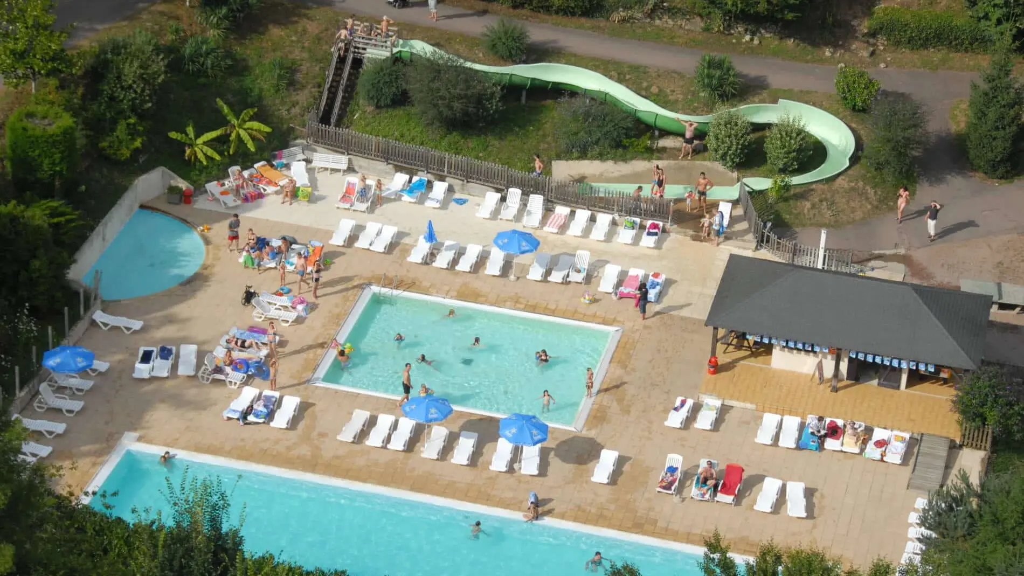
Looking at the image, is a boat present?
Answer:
No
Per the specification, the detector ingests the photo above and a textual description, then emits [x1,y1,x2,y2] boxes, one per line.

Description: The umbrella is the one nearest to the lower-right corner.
[499,418,547,472]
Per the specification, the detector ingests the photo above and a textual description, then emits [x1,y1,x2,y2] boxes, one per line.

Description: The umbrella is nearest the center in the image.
[494,233,537,282]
